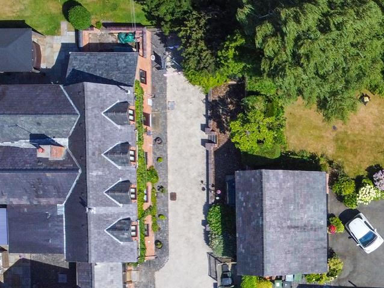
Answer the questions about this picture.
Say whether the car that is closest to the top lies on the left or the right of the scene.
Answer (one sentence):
The car that is closest to the top appears in the right half of the scene.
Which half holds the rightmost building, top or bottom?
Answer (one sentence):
The bottom half of the photo is where the rightmost building is.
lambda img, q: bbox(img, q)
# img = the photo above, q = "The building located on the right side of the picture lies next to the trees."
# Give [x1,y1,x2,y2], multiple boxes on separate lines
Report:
[235,169,331,277]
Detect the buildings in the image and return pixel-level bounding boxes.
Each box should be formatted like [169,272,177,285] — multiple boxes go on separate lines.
[0,28,44,77]
[235,169,331,277]
[0,52,160,288]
